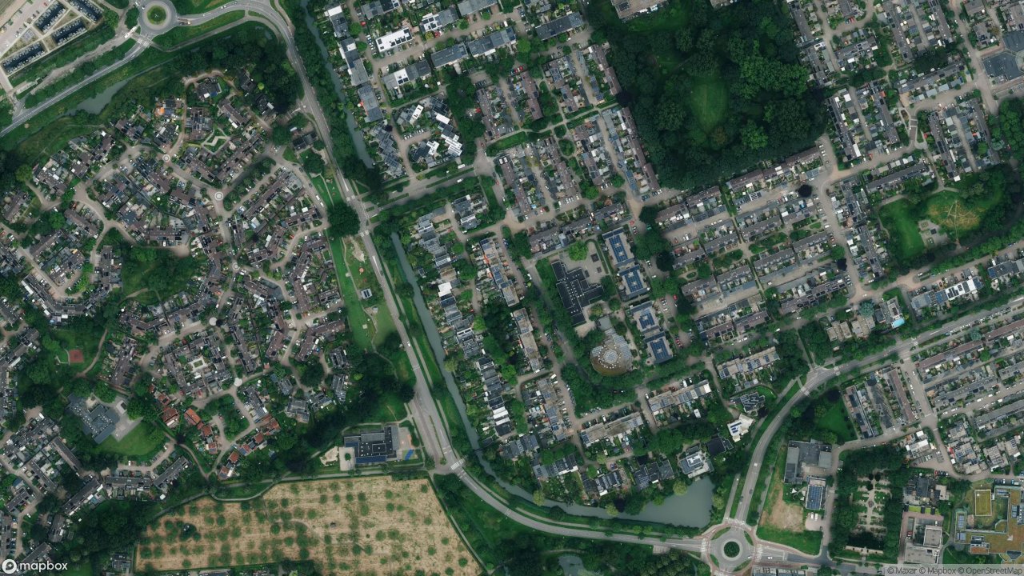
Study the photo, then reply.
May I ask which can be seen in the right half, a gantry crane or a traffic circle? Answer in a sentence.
It is a traffic circle that can be seen in the right half.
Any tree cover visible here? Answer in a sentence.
Yes, there is tree cover in the image.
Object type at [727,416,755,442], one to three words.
house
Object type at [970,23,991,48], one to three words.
house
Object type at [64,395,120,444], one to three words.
building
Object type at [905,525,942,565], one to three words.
building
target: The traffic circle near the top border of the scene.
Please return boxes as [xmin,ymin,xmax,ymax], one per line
[134,0,179,37]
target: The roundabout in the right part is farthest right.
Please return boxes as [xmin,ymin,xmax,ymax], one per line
[705,522,759,576]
